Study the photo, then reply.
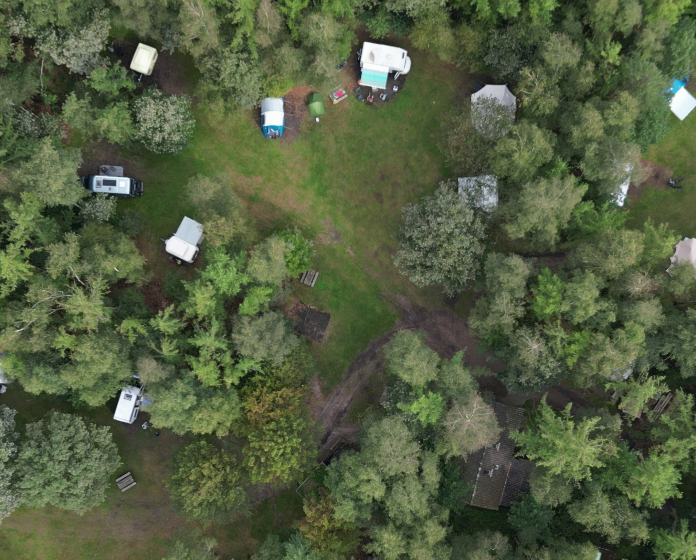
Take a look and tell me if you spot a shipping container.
No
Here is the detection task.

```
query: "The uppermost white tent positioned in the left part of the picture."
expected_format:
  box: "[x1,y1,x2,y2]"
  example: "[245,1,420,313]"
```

[258,97,292,139]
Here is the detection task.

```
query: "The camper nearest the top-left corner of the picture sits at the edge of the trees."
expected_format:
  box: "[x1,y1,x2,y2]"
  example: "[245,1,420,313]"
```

[131,42,159,86]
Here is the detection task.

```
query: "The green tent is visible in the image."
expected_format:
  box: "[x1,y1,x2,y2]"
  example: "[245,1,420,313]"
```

[307,94,326,117]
